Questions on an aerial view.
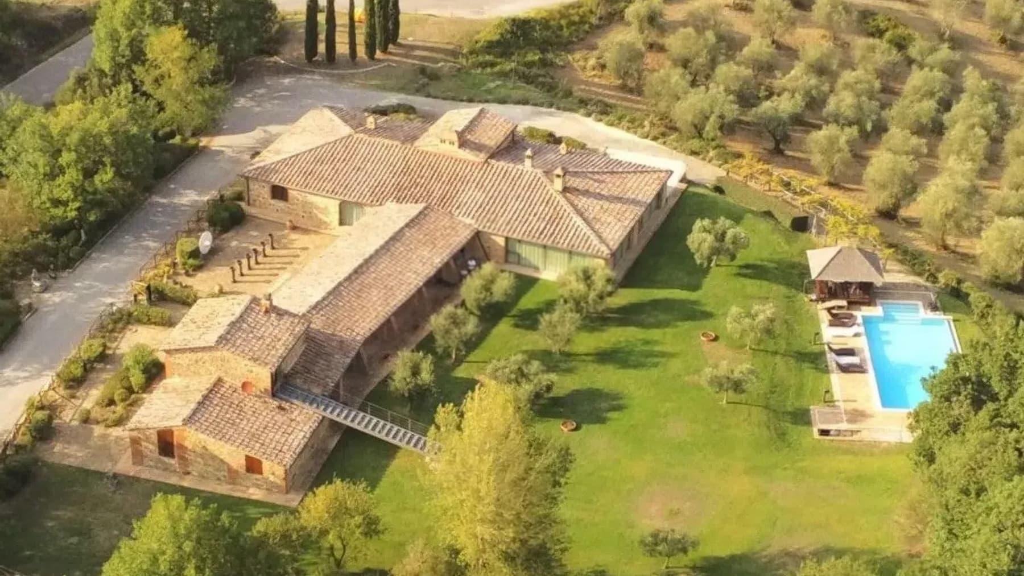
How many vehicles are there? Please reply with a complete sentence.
I count no vehicles.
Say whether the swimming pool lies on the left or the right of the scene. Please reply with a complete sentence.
The swimming pool is on the right side of the image.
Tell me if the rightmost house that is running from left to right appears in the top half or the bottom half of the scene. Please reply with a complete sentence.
It is in the top half that the rightmost house that is running from left to right appears.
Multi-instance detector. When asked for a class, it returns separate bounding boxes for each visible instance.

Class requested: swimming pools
[852,301,966,416]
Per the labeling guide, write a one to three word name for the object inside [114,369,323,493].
building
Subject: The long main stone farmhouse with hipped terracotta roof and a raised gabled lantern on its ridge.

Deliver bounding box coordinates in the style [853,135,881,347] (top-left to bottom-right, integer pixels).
[238,105,671,276]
